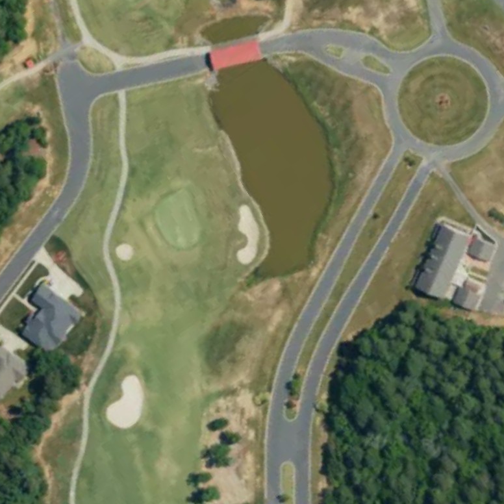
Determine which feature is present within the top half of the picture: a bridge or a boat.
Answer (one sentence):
It is a bridge that can be seen within the top half of the picture.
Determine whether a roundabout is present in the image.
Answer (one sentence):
Yes, there's a roundabout here.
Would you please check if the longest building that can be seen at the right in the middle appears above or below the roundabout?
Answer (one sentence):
The longest building that can be seen at the right in the middle is located below the roundabout in this view.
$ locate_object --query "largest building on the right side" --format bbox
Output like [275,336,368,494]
[415,222,472,298]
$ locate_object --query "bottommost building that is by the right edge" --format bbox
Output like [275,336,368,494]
[452,278,483,310]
